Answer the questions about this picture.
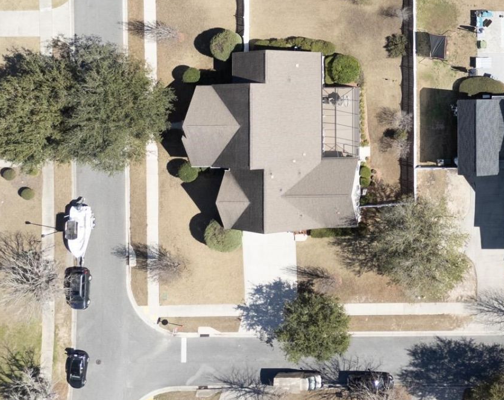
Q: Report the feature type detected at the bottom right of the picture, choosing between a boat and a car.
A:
car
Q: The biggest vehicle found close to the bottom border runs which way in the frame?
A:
from side to side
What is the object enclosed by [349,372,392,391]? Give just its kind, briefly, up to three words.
car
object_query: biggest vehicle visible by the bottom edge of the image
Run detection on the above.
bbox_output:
[271,371,322,395]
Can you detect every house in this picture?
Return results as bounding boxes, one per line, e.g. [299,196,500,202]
[183,51,364,236]
[458,96,504,176]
